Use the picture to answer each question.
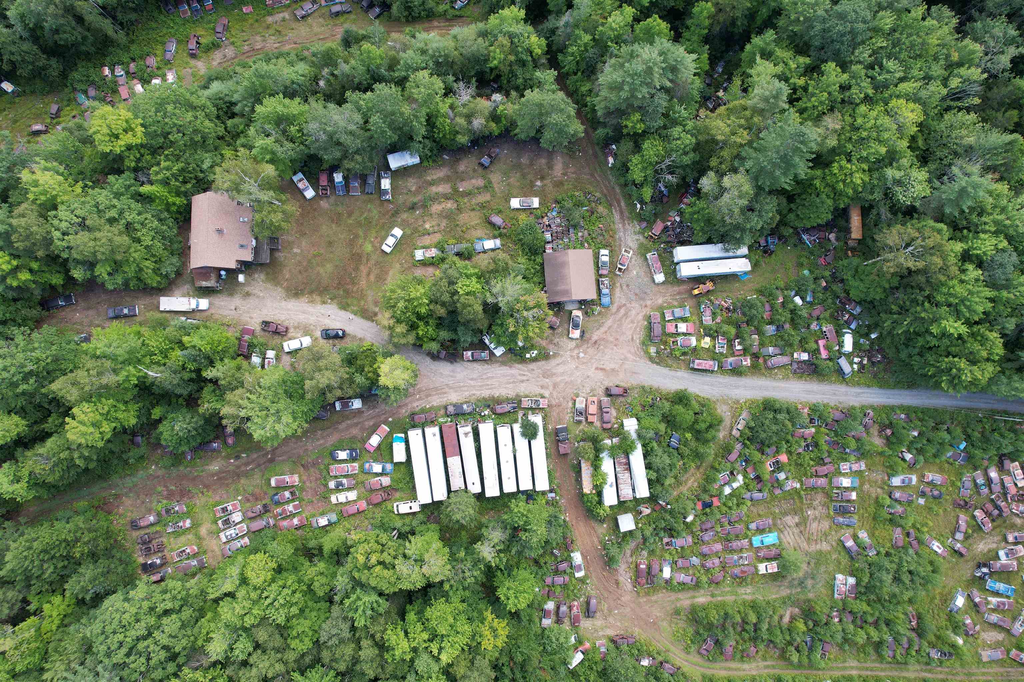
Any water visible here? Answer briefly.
No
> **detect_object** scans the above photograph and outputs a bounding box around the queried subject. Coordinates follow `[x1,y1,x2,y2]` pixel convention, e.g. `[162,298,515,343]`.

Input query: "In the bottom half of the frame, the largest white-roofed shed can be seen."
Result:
[615,510,637,532]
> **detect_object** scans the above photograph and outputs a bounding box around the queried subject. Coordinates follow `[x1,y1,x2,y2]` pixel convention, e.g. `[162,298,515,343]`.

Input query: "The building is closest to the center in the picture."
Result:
[543,249,596,303]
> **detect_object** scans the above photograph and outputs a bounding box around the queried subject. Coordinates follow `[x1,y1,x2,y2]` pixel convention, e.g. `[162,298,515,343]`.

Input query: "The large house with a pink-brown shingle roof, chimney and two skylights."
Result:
[190,192,280,293]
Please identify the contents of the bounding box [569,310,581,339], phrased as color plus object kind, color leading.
white vehicle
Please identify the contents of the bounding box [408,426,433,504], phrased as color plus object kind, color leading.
white trailer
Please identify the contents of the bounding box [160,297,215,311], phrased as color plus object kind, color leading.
white vehicle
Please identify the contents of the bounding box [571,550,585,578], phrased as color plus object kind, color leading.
white car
